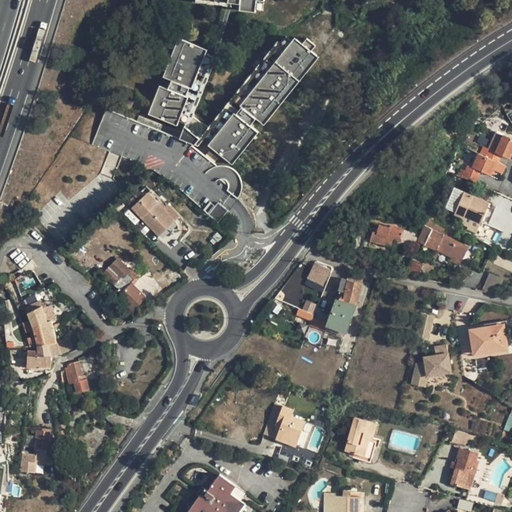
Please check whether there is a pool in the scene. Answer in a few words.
Yes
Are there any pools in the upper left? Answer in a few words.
No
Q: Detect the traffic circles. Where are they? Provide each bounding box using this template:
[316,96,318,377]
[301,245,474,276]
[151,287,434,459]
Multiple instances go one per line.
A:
[165,278,246,359]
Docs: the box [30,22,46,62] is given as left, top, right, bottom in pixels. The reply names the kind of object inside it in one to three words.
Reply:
vehicle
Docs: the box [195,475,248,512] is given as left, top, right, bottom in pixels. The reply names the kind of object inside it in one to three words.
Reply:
building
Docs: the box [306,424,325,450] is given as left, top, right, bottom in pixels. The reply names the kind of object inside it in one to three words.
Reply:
swimming pool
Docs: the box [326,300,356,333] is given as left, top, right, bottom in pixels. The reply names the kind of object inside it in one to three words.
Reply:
house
